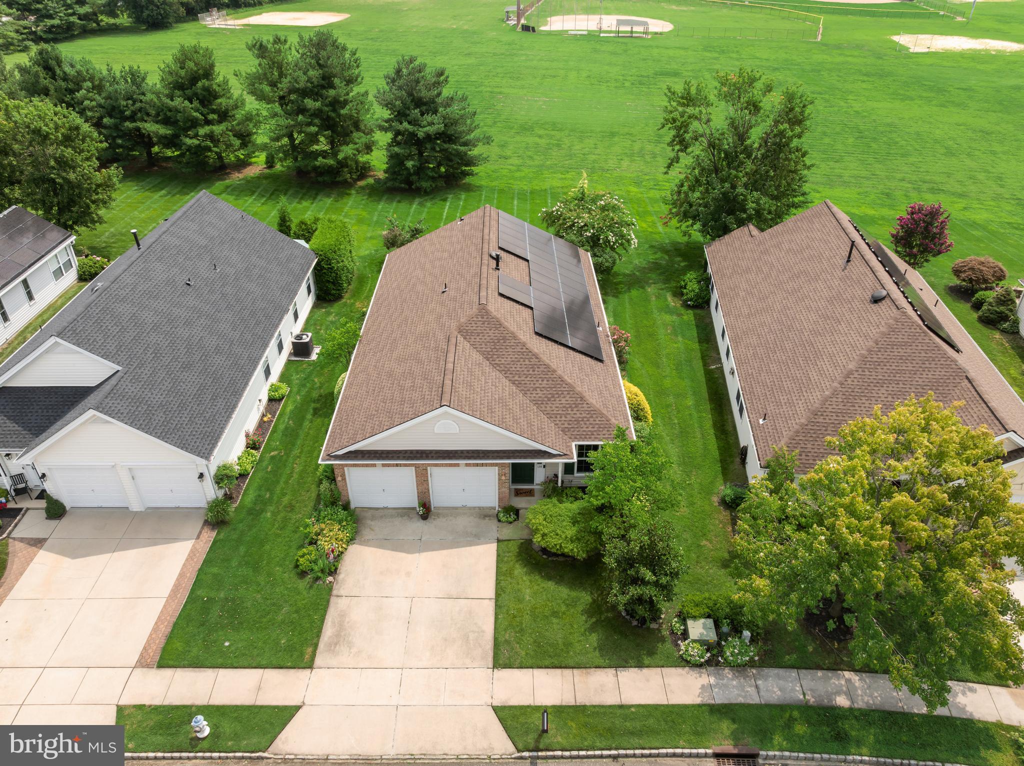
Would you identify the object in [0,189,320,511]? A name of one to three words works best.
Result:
house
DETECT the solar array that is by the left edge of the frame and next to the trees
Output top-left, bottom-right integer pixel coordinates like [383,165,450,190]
[0,209,72,291]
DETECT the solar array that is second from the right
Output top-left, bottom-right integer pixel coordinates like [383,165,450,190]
[499,210,602,360]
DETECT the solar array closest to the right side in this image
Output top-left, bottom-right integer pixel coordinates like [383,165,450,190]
[848,218,959,350]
